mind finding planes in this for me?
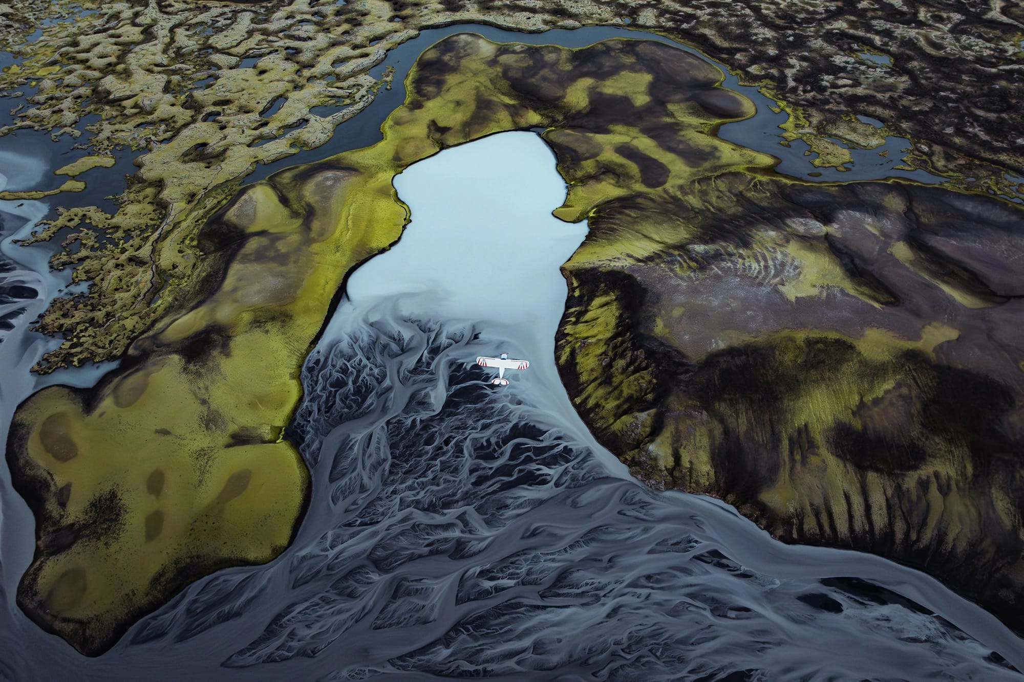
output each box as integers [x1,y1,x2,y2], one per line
[476,353,529,387]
